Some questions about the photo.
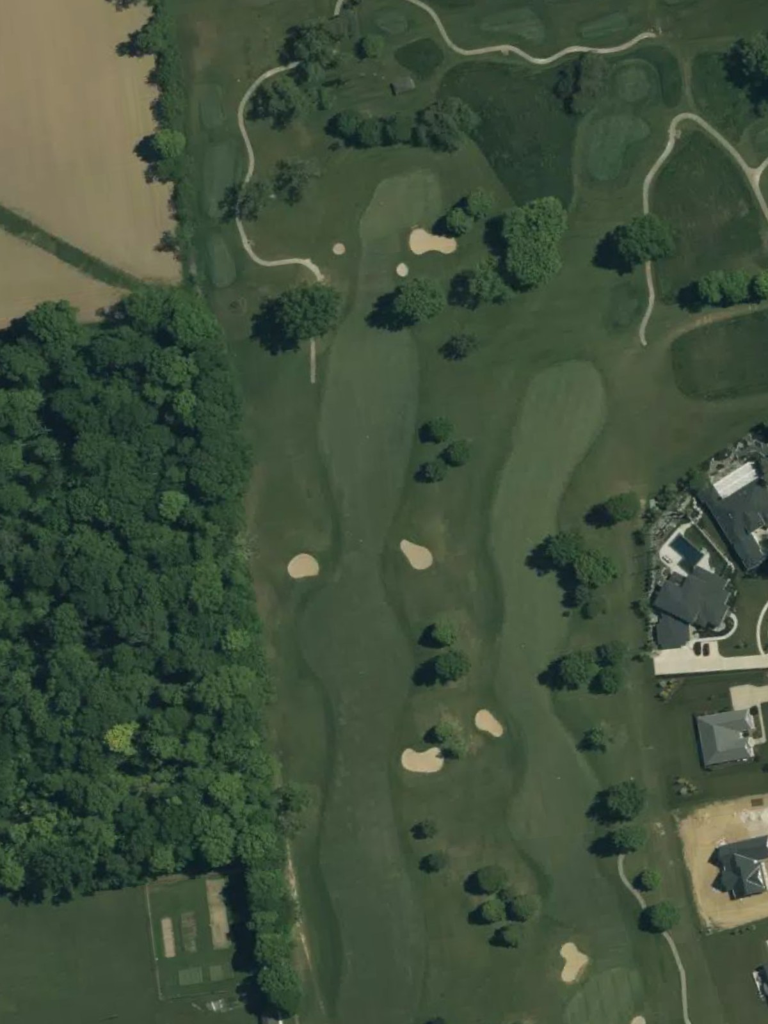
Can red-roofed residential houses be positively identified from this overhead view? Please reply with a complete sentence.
No, no red-roofed residential house can be seen from above.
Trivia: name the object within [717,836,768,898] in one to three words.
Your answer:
house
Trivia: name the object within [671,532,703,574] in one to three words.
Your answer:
swimming pool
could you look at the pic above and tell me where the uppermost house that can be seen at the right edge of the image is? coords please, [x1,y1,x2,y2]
[704,462,768,571]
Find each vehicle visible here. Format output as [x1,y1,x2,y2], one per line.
[704,644,709,656]
[695,643,700,655]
